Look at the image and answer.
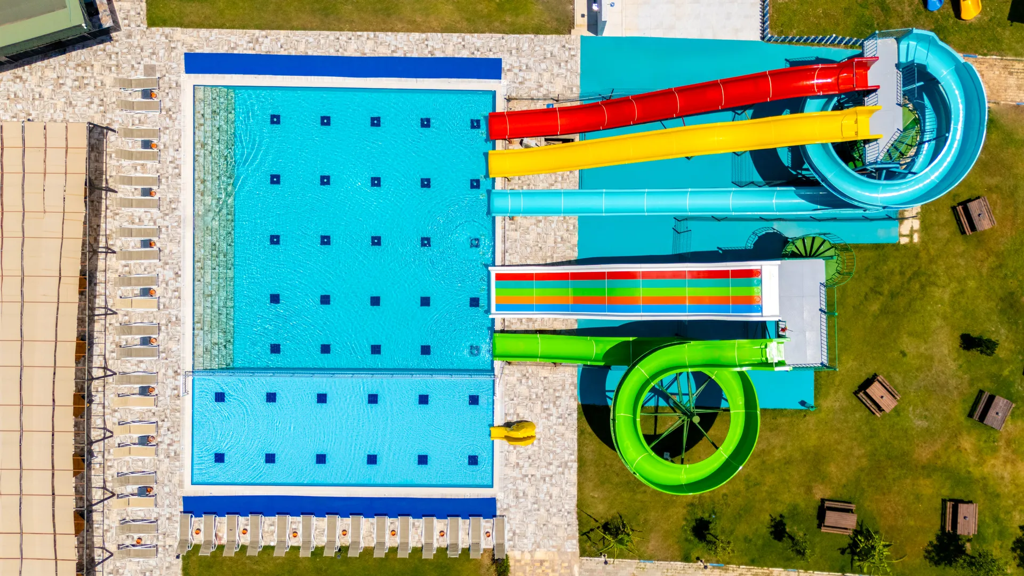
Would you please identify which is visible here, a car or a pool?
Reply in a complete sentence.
It is a pool that can be seen here.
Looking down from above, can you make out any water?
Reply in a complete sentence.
Yes, the picture does contain water.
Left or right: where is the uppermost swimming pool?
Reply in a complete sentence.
The uppermost swimming pool is on the left side of the image.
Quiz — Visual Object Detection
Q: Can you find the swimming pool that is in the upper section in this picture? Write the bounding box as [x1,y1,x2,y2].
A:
[179,75,508,377]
